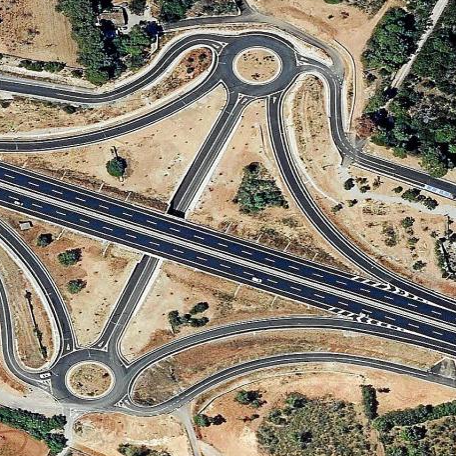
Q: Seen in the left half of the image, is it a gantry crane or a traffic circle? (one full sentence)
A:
It is a traffic circle that can be seen in the left half of the image.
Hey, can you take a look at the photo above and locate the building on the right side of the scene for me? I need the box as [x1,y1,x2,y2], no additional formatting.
[442,242,456,275]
